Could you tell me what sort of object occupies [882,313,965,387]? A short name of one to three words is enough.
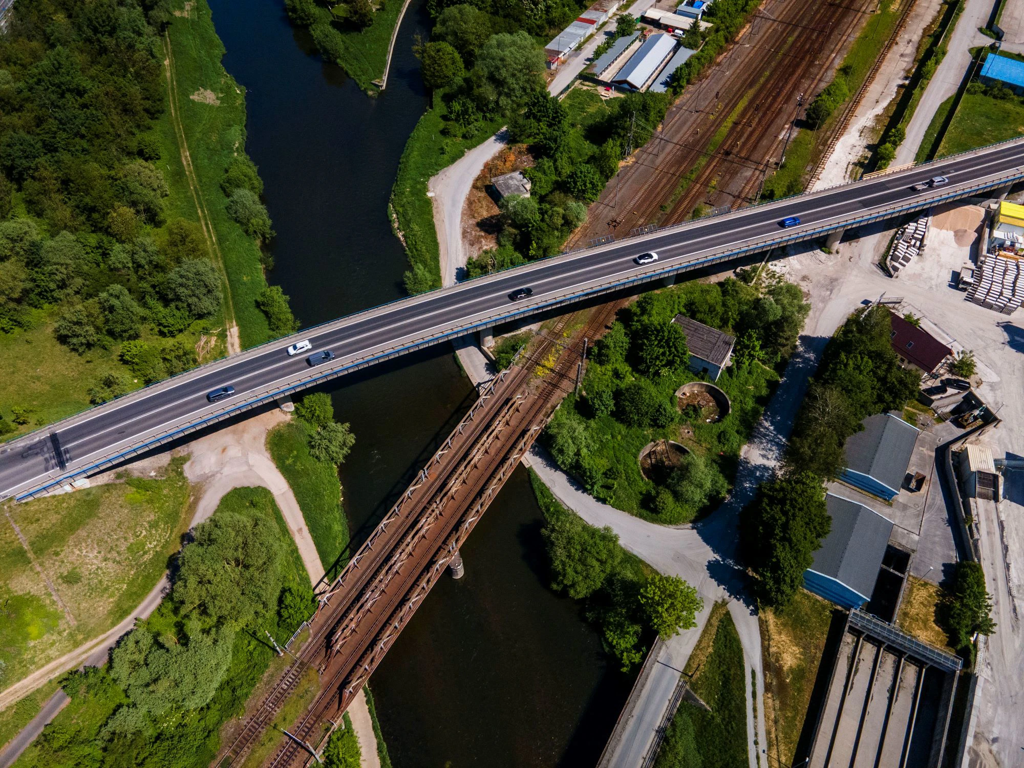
house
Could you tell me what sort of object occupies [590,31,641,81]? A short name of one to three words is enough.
shed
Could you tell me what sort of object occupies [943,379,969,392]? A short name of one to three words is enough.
vehicle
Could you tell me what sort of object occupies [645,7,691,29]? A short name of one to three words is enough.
building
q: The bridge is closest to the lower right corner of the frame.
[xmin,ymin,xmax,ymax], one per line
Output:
[849,599,967,664]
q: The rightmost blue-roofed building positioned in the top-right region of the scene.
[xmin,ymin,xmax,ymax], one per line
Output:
[979,53,1024,98]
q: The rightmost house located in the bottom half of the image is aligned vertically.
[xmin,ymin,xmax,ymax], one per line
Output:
[956,444,998,519]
